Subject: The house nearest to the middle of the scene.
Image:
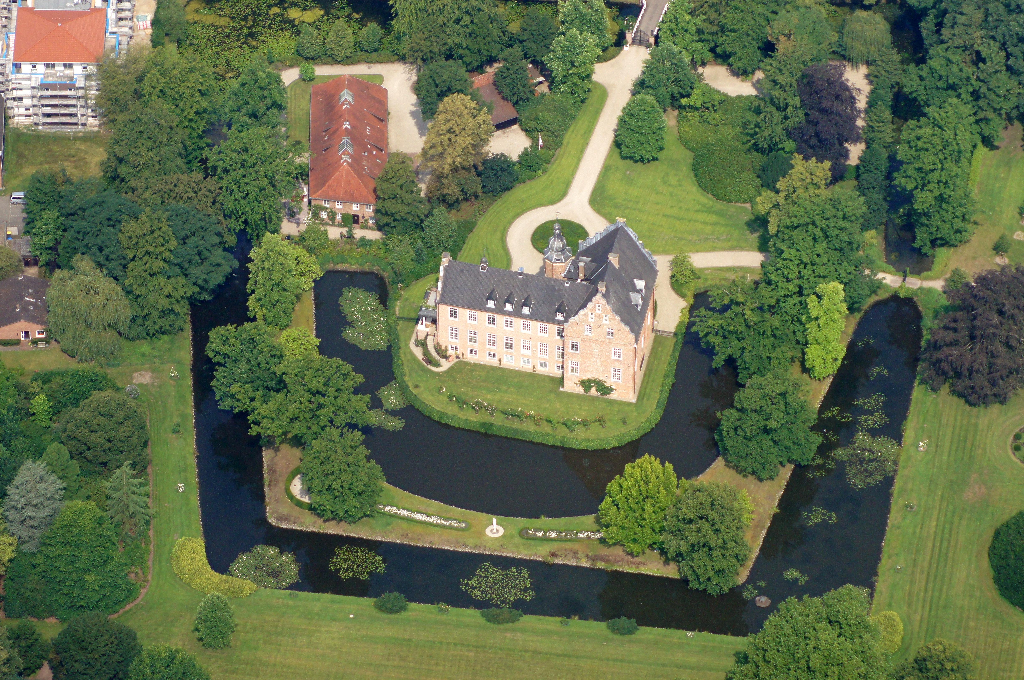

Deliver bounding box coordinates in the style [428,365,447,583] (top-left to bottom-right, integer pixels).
[417,211,659,398]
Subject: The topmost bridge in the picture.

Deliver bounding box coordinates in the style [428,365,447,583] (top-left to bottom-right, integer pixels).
[629,0,675,44]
